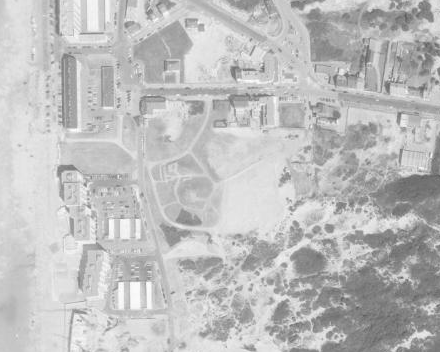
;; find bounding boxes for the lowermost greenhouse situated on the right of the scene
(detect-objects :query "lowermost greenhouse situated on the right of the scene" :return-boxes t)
[402,150,429,168]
